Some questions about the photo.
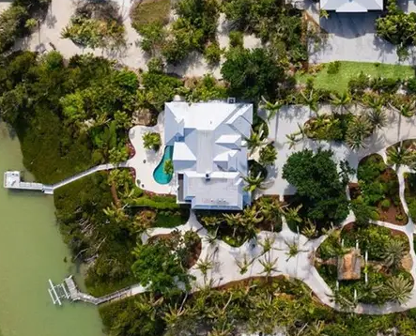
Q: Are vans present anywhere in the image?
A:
No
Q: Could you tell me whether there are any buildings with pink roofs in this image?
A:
No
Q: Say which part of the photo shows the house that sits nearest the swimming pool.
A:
center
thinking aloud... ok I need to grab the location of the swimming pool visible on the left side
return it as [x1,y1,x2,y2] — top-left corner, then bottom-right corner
[152,145,175,186]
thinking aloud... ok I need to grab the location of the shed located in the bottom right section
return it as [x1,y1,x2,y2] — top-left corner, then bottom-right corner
[338,246,361,288]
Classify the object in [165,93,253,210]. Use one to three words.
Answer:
house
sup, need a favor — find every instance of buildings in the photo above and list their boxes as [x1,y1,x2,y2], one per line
[165,93,253,210]
[319,0,384,12]
[338,246,361,288]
